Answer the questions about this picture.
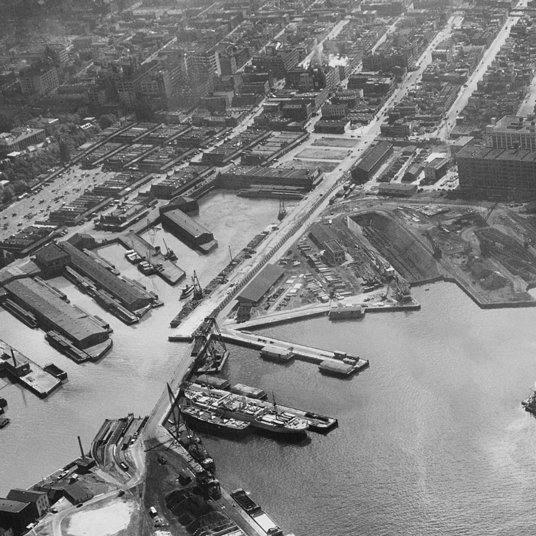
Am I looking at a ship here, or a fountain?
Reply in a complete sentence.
Visible in the photo is a ship.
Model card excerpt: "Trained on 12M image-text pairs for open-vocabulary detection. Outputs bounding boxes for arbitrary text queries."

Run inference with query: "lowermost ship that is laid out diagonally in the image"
[251,511,282,535]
